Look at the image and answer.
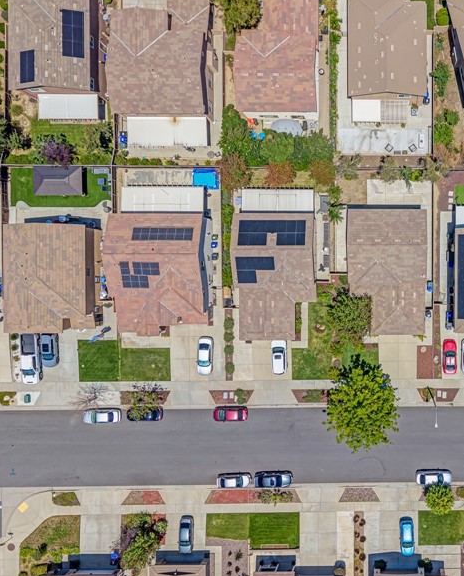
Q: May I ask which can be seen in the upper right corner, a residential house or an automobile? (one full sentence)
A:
The feature located in the upper right corner is a residential house.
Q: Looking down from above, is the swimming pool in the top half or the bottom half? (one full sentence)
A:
The top half of the photo is where the swimming pool is.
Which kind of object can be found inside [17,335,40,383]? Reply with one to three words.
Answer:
truck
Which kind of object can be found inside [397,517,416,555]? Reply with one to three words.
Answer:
car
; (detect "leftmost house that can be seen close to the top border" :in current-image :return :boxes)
[8,0,106,122]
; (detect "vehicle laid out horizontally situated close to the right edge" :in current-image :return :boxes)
[415,469,452,486]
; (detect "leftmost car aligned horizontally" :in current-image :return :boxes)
[83,408,121,426]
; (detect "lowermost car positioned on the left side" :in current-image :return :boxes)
[176,516,194,553]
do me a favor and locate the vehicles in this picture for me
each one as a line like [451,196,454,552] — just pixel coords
[397,517,416,555]
[415,469,452,486]
[83,408,121,426]
[17,335,40,383]
[127,406,165,423]
[441,338,459,375]
[37,332,58,368]
[254,470,292,489]
[215,472,253,490]
[269,340,287,374]
[195,336,213,375]
[213,406,249,424]
[176,516,194,553]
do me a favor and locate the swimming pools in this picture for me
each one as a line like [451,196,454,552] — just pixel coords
[192,169,225,192]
